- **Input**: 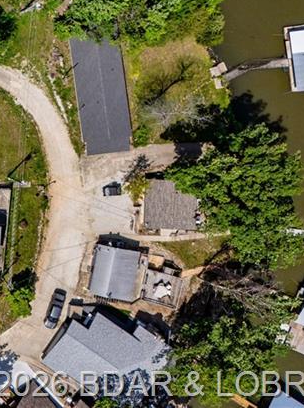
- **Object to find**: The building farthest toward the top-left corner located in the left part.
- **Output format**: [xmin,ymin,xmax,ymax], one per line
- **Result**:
[68,39,130,154]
